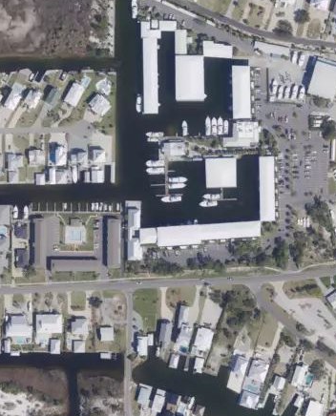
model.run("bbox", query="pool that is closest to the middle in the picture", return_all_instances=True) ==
[65,226,86,245]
